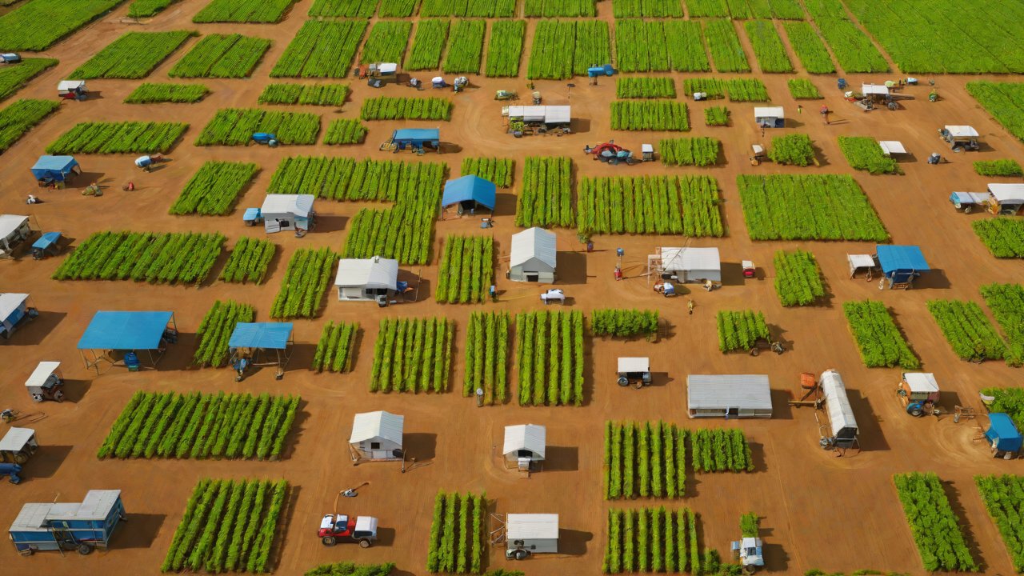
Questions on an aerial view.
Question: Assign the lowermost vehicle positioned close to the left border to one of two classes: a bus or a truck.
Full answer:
I'd identify the lowermost vehicle positioned close to the left border as a bus.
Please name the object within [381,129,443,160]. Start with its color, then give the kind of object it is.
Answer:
blue trailer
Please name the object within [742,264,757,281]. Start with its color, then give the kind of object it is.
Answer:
red car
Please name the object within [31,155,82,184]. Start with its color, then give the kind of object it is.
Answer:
blue tent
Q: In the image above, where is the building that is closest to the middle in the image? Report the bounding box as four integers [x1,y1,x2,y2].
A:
[510,227,557,282]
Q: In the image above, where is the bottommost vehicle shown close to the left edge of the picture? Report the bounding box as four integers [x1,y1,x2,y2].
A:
[7,489,139,561]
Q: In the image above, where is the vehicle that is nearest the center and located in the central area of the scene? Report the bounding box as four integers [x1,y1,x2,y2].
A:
[538,288,567,307]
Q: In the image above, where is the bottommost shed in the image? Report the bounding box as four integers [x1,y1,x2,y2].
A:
[506,513,559,552]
